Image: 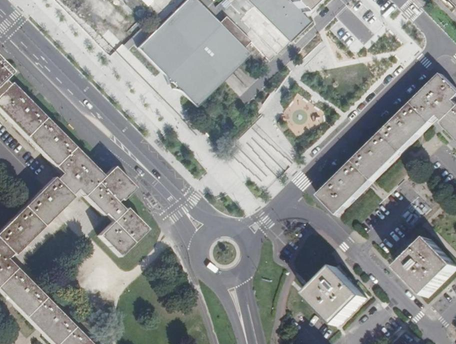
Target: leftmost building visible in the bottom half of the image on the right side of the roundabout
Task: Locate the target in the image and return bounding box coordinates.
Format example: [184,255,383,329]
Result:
[300,265,366,327]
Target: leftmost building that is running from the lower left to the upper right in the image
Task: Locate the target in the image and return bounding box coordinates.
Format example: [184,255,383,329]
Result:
[0,178,83,257]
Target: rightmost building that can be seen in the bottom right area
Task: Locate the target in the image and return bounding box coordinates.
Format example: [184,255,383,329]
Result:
[390,236,456,299]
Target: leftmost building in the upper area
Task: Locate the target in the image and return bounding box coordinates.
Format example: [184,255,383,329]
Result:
[0,50,110,199]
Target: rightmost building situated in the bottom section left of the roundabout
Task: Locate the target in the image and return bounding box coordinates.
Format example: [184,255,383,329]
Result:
[86,167,158,258]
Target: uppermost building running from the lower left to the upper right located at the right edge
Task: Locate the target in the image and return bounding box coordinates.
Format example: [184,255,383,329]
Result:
[314,73,456,217]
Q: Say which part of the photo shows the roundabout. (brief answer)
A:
bottom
